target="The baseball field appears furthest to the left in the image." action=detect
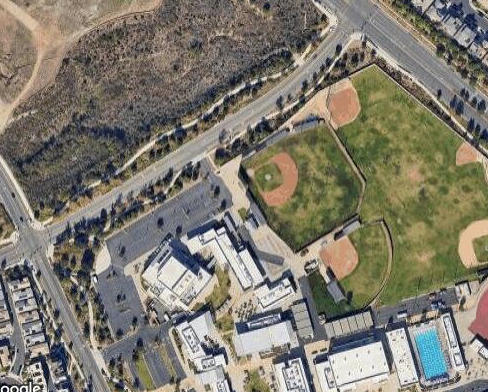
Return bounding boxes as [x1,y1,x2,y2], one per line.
[242,152,299,205]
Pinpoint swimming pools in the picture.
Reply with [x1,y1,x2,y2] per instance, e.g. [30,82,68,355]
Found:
[408,318,458,391]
